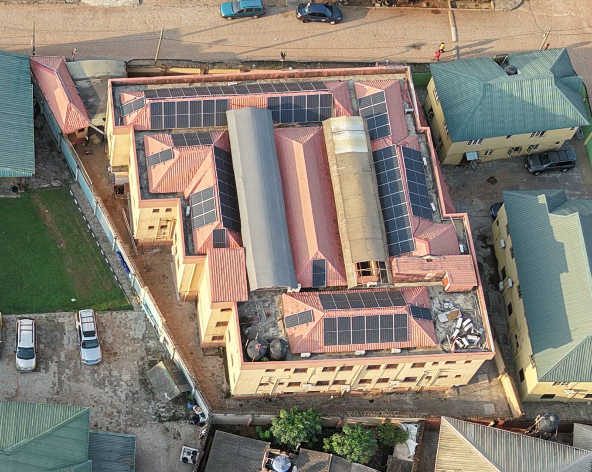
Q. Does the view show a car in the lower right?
No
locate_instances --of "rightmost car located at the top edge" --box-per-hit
[295,4,343,26]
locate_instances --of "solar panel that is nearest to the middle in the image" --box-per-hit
[313,259,326,287]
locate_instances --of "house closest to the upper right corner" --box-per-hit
[425,47,592,161]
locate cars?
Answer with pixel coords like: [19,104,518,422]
[14,319,38,371]
[76,311,102,365]
[523,147,579,177]
[487,198,504,220]
[219,0,266,21]
[295,4,343,26]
